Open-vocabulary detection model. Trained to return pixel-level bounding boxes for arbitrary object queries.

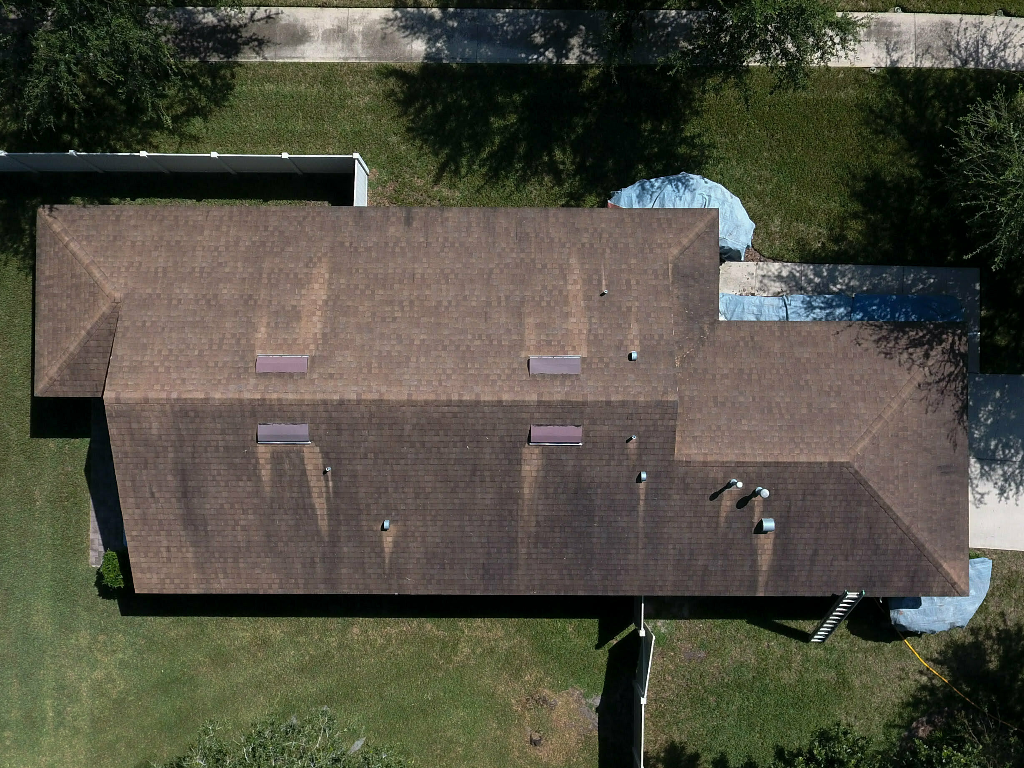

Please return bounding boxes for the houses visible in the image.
[34,205,970,597]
